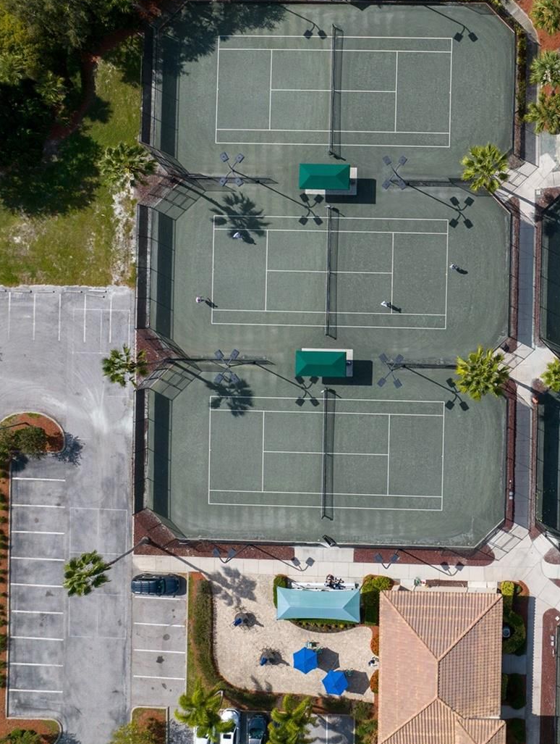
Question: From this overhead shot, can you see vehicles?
Yes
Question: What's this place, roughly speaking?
sports ground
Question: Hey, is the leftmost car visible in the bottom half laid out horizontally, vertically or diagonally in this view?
horizontally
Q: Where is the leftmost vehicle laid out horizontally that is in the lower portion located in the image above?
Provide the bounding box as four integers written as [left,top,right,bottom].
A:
[133,573,186,598]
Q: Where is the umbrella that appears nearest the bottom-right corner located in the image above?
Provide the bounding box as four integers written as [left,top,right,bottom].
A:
[321,669,347,695]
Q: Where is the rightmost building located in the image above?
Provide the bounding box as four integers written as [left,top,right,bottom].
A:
[377,585,506,744]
